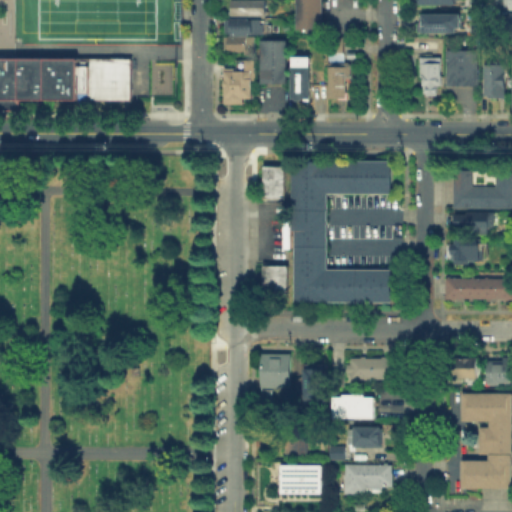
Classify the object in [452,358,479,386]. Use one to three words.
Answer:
house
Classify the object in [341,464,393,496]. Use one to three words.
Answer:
building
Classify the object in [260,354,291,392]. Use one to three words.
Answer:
house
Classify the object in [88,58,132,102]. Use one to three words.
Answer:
building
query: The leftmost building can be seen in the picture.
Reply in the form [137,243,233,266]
[0,59,76,102]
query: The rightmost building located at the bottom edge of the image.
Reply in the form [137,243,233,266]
[462,394,512,490]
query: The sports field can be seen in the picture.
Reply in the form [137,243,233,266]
[16,0,183,46]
